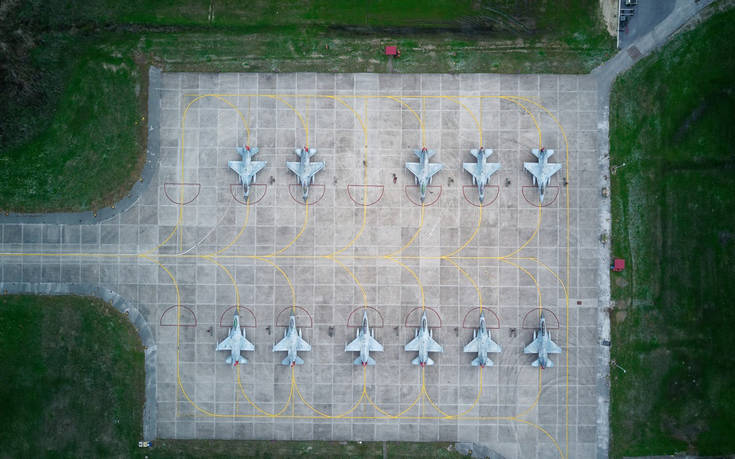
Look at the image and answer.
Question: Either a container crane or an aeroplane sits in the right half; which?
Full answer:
The one visible in the right half is an aeroplane.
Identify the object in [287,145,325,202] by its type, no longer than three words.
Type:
airplane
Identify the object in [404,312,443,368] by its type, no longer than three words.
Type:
airplane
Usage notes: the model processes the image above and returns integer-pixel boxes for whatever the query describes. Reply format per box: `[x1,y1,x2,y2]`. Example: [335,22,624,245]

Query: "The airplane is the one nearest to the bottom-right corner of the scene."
[523,313,562,370]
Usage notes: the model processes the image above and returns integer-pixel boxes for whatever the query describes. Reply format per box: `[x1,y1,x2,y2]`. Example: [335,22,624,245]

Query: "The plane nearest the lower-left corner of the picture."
[217,310,256,367]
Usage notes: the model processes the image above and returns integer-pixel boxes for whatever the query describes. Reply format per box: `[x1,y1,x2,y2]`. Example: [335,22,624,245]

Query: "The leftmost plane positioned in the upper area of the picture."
[228,145,266,201]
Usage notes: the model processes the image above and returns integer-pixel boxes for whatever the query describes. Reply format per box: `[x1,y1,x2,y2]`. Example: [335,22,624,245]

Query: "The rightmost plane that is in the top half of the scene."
[523,147,562,203]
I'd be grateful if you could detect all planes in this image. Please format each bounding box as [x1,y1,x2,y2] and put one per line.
[405,145,444,201]
[345,312,383,368]
[228,145,266,201]
[523,313,562,370]
[404,312,443,368]
[217,310,256,367]
[523,147,562,203]
[463,312,502,368]
[273,311,312,368]
[287,145,325,202]
[462,146,501,205]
